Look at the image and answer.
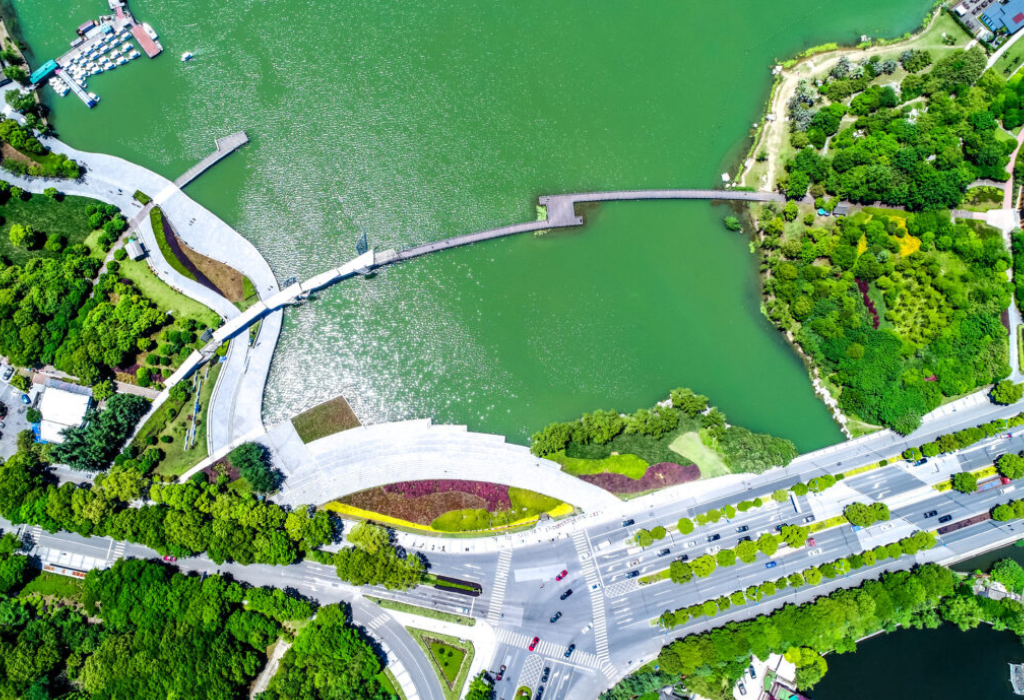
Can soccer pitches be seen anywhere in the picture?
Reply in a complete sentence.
No, this view has no soccer pitch in it.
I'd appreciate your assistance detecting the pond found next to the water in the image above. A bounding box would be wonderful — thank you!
[808,606,1024,700]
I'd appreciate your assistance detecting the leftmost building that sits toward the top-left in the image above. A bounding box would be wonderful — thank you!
[30,60,61,86]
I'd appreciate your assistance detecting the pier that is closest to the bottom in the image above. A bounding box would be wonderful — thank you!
[176,129,249,187]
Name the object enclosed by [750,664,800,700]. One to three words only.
house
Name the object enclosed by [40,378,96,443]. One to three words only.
building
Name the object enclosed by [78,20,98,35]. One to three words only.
boat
